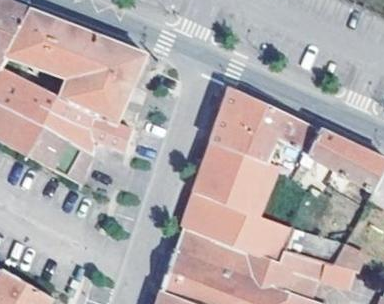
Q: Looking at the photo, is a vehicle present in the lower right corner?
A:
No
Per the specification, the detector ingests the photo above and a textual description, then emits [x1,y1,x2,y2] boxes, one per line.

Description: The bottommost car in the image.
[66,279,78,298]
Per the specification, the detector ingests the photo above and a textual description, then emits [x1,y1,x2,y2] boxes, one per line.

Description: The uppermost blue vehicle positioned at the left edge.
[8,161,24,186]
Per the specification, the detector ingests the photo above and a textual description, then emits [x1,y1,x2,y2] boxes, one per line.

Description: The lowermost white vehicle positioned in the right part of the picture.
[322,62,336,78]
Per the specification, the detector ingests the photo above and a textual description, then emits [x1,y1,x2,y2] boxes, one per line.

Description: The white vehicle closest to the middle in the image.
[144,122,168,138]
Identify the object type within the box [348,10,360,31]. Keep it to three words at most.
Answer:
vehicle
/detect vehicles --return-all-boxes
[44,177,58,198]
[66,279,78,298]
[300,43,318,72]
[348,10,360,31]
[42,257,56,281]
[72,264,84,282]
[322,62,336,78]
[144,122,168,138]
[21,169,35,190]
[90,170,114,185]
[76,197,91,219]
[134,145,158,158]
[8,161,24,186]
[20,247,36,272]
[6,242,23,268]
[62,190,77,214]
